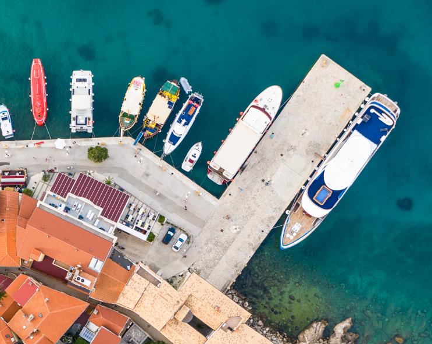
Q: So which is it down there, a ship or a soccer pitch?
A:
ship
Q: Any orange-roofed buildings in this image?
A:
Yes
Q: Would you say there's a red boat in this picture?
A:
Yes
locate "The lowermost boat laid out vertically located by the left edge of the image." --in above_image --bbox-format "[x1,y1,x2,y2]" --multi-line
[0,104,15,140]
